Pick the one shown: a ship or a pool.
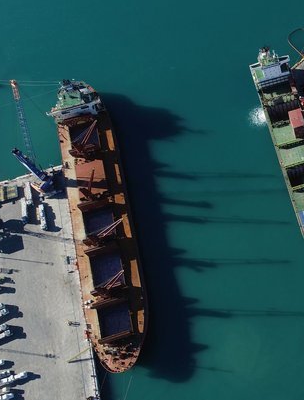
ship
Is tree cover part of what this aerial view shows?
No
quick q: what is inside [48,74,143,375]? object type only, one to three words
ship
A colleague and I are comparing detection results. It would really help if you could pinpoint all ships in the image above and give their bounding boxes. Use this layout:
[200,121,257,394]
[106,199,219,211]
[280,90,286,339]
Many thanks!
[254,55,304,240]
[48,74,143,375]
